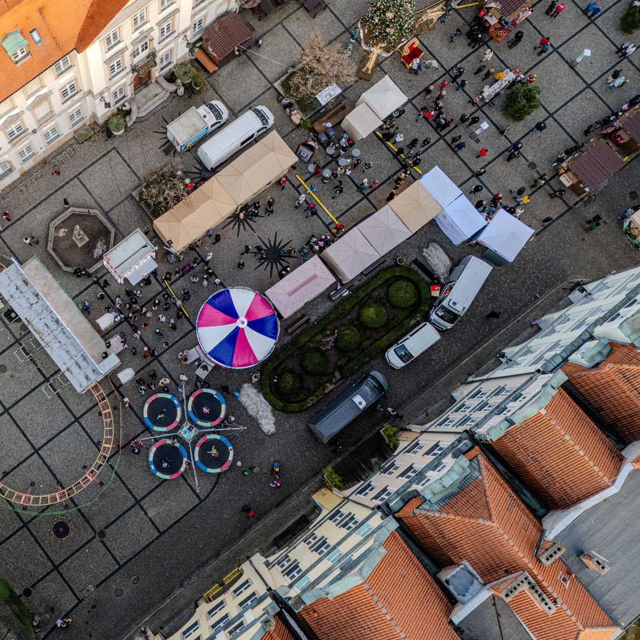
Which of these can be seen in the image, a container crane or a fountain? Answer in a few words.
fountain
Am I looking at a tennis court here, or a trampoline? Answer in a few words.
trampoline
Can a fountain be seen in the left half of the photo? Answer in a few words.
Yes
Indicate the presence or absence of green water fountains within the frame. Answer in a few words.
No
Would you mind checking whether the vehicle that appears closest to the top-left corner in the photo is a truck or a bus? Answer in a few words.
truck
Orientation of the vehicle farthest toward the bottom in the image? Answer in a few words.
on a diagonal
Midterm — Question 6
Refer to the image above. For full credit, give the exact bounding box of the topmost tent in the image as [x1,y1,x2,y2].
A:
[359,75,408,122]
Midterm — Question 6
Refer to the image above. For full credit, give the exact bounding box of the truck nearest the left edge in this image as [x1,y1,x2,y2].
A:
[161,97,233,158]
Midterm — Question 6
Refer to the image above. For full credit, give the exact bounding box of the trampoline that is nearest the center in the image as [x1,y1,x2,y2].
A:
[187,388,225,427]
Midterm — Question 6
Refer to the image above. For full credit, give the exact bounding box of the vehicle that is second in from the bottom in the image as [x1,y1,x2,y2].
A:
[383,322,446,372]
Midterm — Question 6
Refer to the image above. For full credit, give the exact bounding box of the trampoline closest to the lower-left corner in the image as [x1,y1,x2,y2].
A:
[149,439,187,479]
